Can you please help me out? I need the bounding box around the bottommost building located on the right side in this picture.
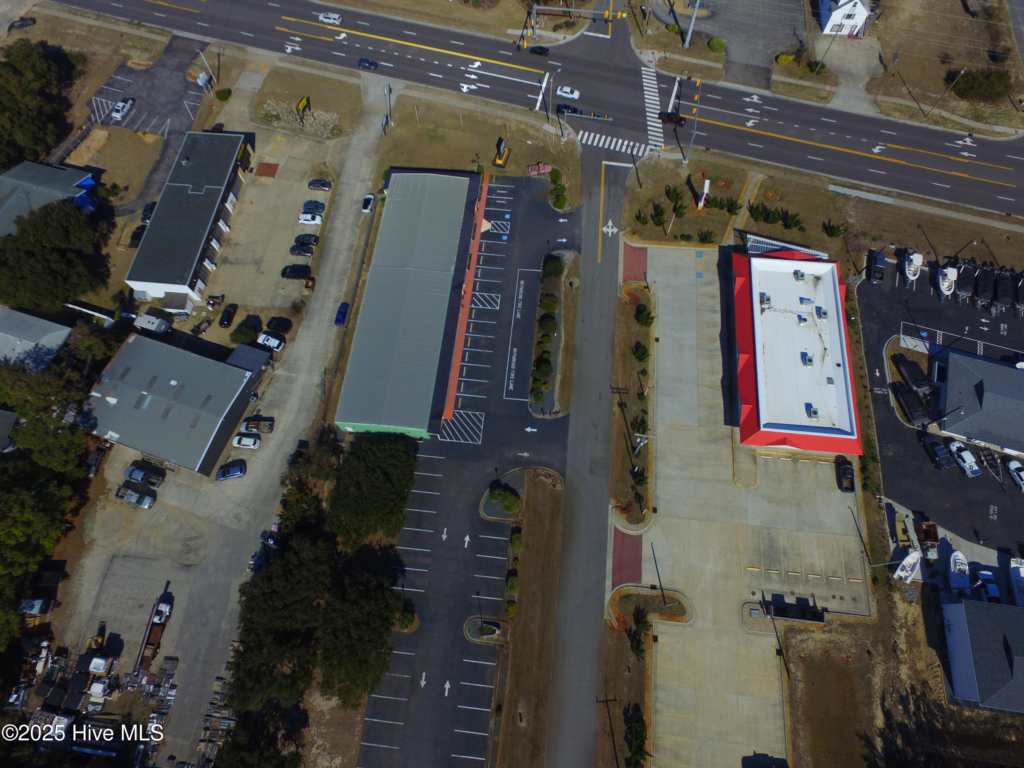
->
[945,600,1024,712]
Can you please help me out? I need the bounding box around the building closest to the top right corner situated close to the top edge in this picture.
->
[817,0,873,40]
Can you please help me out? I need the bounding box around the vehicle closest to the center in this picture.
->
[334,301,352,326]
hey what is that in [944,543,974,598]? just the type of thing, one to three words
boat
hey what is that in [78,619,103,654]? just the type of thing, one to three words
work vehicle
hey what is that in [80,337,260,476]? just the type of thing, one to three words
warehouse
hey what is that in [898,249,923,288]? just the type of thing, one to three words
boat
